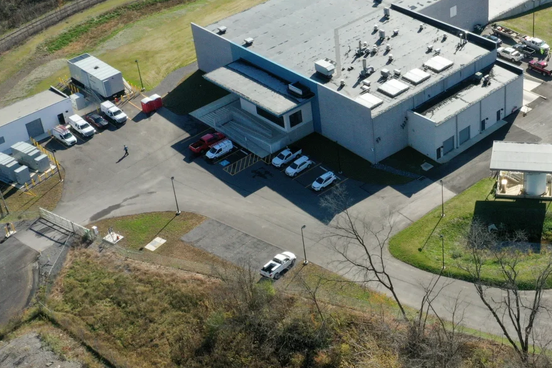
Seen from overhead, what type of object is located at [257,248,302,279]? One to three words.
truck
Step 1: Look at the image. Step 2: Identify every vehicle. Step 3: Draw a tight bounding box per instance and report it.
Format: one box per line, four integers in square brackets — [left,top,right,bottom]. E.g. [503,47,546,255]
[64,109,96,135]
[510,40,540,56]
[257,248,302,279]
[308,166,340,190]
[497,45,526,61]
[483,32,505,46]
[50,120,79,145]
[519,35,551,52]
[97,96,128,122]
[281,152,315,176]
[267,144,307,168]
[203,132,238,159]
[84,111,111,129]
[525,59,552,75]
